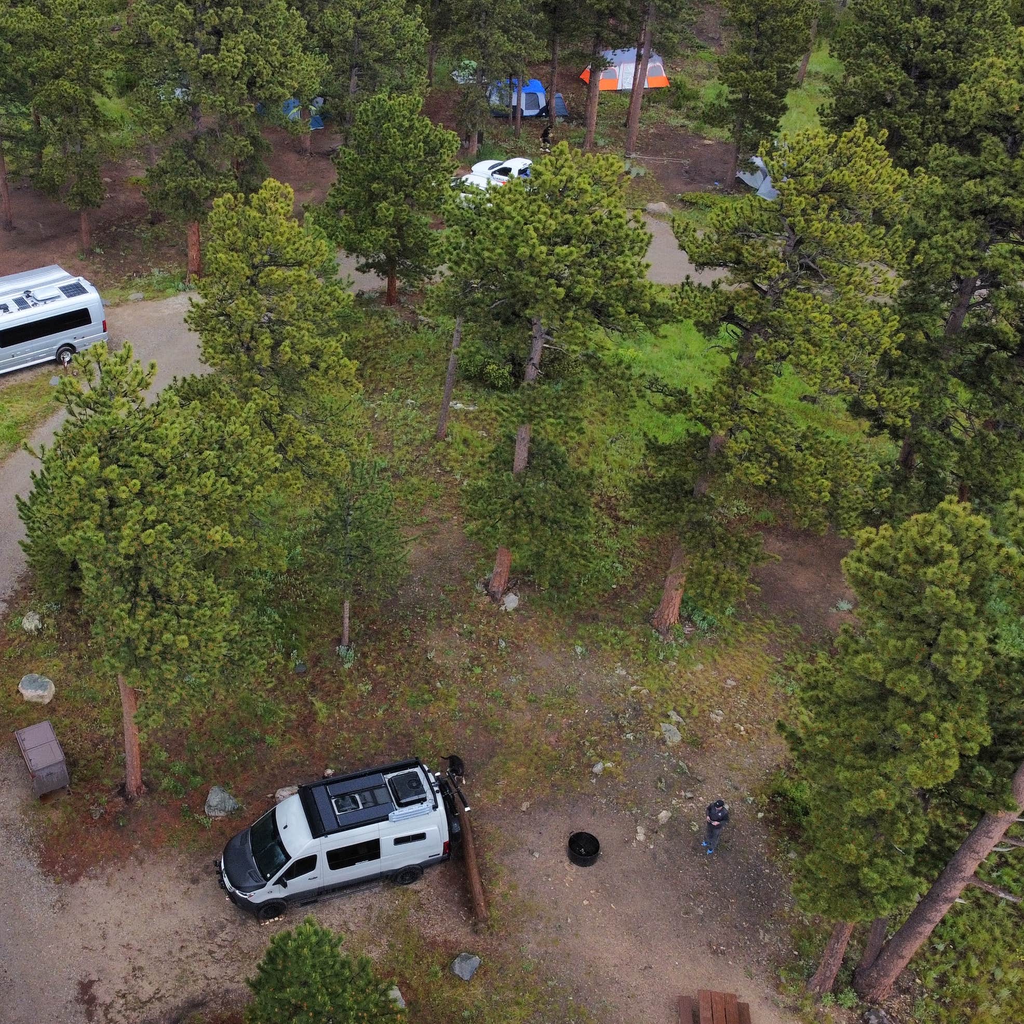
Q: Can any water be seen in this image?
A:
No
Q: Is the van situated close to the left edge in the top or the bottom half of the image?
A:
top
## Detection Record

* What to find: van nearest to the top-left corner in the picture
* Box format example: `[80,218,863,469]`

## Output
[0,286,108,376]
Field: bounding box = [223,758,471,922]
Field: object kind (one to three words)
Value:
van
